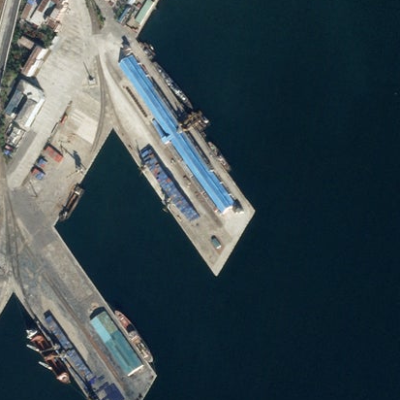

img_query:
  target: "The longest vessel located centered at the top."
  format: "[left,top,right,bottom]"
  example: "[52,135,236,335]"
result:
[153,63,193,109]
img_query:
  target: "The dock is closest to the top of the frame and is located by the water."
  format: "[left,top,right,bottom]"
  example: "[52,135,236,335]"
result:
[113,39,255,276]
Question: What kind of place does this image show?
port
